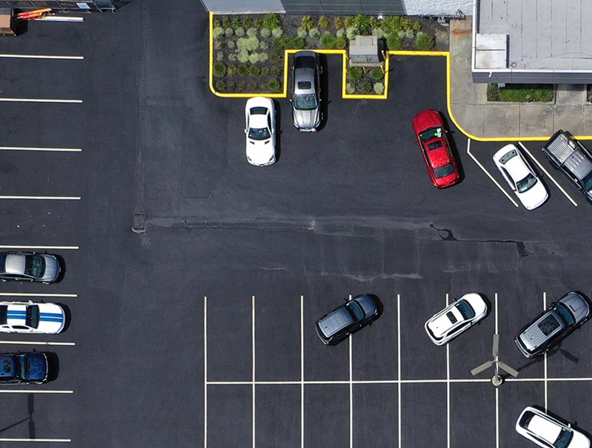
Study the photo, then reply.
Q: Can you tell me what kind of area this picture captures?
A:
parking lot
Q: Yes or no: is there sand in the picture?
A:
No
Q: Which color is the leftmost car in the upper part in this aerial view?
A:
white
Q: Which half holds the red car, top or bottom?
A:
top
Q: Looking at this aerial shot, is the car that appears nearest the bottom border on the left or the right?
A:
right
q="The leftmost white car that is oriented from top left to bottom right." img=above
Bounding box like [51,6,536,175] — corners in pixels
[490,140,548,215]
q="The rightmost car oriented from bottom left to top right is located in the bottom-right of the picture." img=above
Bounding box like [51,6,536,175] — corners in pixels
[513,293,592,360]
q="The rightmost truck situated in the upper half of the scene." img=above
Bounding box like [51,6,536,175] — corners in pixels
[539,126,592,207]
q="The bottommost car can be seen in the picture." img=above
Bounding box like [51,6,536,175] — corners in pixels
[516,406,591,448]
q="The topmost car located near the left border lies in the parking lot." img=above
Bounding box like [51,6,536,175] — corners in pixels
[0,247,64,285]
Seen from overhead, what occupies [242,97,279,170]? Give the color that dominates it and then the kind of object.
white car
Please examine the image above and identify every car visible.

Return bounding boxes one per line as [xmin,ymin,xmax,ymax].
[516,406,591,448]
[287,51,326,134]
[315,293,385,348]
[0,298,68,336]
[0,348,54,389]
[425,291,495,350]
[513,293,592,360]
[490,140,548,215]
[0,247,64,285]
[242,97,279,170]
[415,110,460,191]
